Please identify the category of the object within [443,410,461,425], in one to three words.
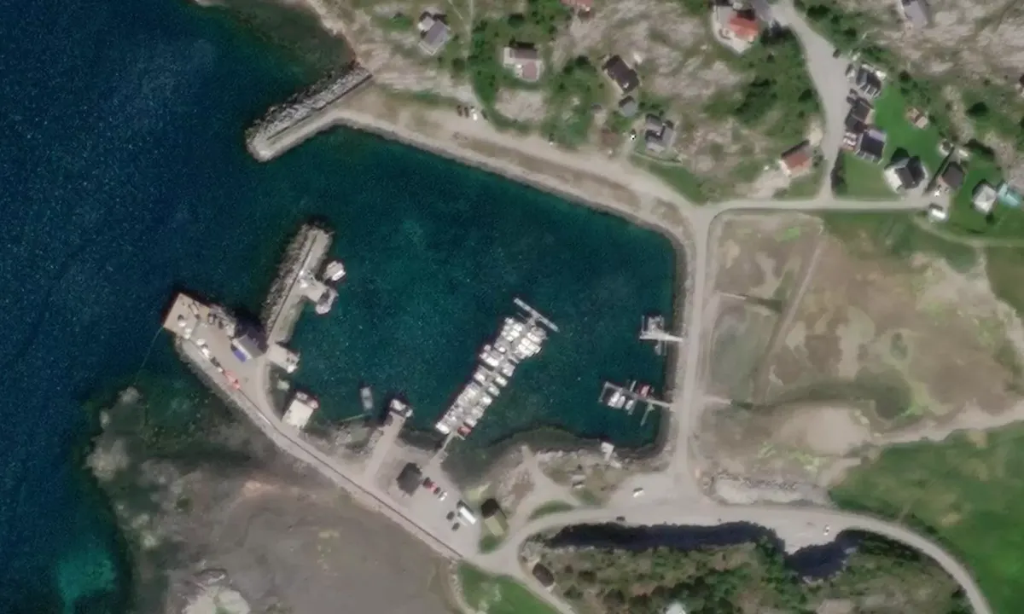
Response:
boat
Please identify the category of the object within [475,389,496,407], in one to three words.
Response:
boat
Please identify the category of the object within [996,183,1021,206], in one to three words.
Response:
greenhouse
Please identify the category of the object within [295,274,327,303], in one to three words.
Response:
pier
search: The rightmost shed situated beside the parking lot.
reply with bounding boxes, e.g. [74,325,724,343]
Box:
[481,508,507,537]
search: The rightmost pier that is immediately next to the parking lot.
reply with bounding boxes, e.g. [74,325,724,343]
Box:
[452,315,536,439]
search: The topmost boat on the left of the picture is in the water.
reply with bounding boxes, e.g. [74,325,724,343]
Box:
[322,265,340,280]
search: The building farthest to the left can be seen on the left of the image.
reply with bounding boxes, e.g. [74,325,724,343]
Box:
[235,324,271,360]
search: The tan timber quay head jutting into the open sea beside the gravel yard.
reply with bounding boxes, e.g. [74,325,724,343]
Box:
[164,293,209,338]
